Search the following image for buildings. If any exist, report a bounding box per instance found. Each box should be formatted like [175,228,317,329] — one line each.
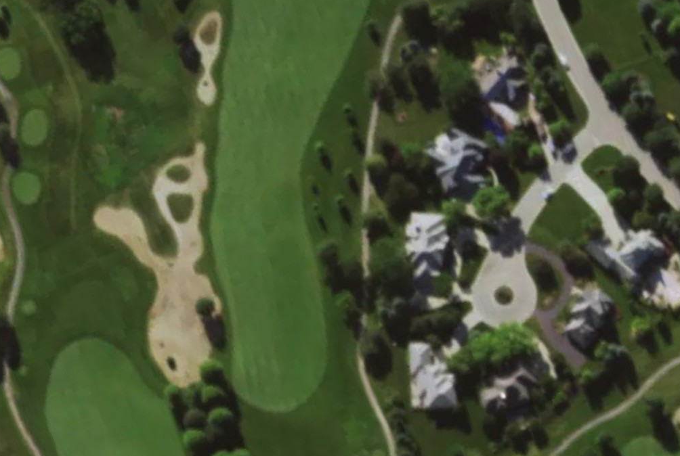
[559,282,619,351]
[428,122,493,197]
[405,340,459,417]
[474,362,549,423]
[408,208,454,295]
[586,223,676,289]
[470,50,533,117]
